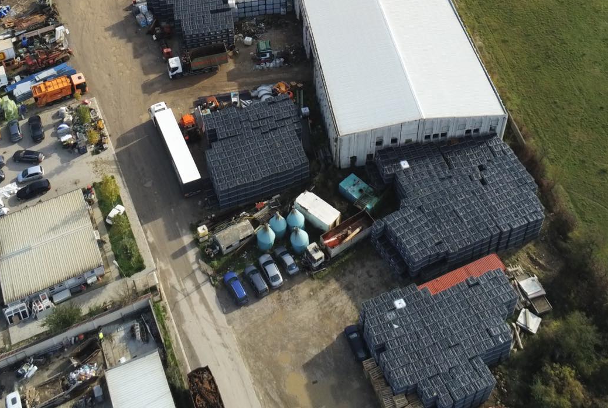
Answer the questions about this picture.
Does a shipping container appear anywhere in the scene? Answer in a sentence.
Yes, the picture does show a shipping container.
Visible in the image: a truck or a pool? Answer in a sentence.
The image shows a truck.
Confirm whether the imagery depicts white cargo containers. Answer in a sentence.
Yes, this view includes a white cargo container.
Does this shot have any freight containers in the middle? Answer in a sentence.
Yes, the scene does show a freight container in the middle.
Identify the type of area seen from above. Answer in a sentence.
This looks like an industrial area.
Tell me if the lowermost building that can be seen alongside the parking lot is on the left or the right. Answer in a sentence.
You can find the lowermost building that can be seen alongside the parking lot on the left side of the picture.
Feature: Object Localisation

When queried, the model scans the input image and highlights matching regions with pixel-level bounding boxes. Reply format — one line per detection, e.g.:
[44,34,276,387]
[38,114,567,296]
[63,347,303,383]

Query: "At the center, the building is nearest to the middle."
[341,177,384,212]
